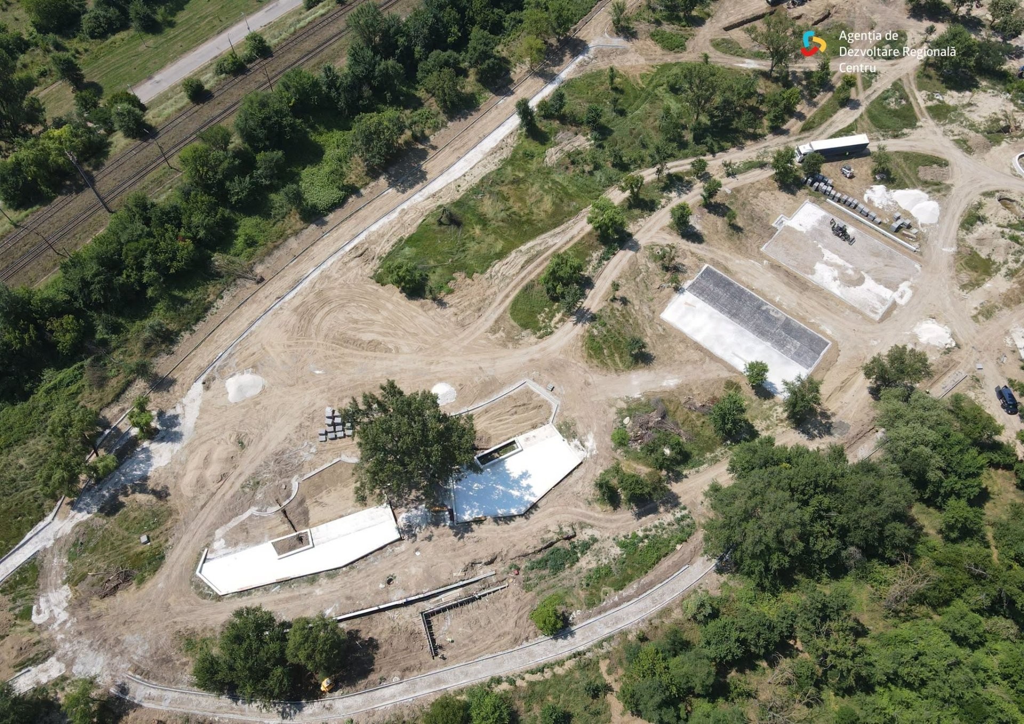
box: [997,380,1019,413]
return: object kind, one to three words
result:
car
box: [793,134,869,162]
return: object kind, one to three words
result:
truck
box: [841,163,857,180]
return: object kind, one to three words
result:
work vehicle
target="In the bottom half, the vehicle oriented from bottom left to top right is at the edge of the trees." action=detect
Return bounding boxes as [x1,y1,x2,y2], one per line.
[315,672,341,694]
